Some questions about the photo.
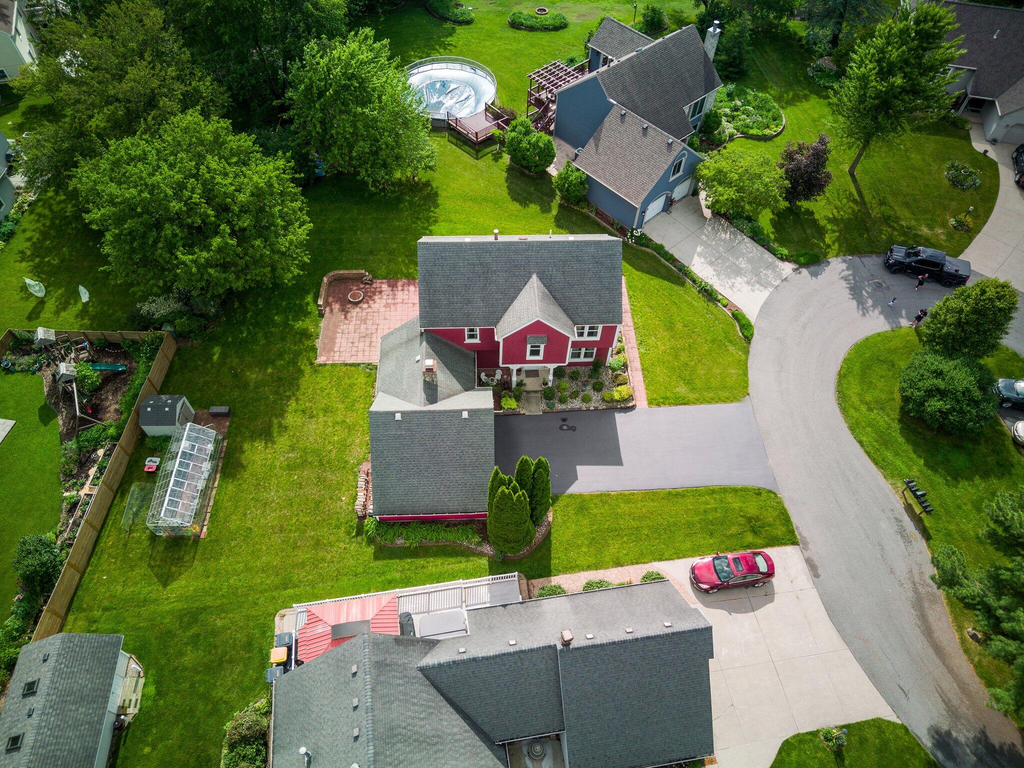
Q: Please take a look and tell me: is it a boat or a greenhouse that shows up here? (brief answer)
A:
greenhouse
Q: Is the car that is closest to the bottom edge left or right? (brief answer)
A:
right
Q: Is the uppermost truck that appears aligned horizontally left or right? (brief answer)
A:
right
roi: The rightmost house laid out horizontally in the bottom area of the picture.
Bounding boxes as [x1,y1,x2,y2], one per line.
[270,579,714,768]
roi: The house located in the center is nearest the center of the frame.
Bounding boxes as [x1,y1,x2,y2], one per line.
[370,229,623,524]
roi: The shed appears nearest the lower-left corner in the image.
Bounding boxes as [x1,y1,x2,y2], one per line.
[0,633,130,768]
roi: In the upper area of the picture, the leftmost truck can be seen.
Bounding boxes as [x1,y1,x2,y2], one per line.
[887,244,974,288]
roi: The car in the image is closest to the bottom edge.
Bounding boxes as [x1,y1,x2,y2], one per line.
[691,552,780,594]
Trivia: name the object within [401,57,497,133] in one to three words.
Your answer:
swimming pool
